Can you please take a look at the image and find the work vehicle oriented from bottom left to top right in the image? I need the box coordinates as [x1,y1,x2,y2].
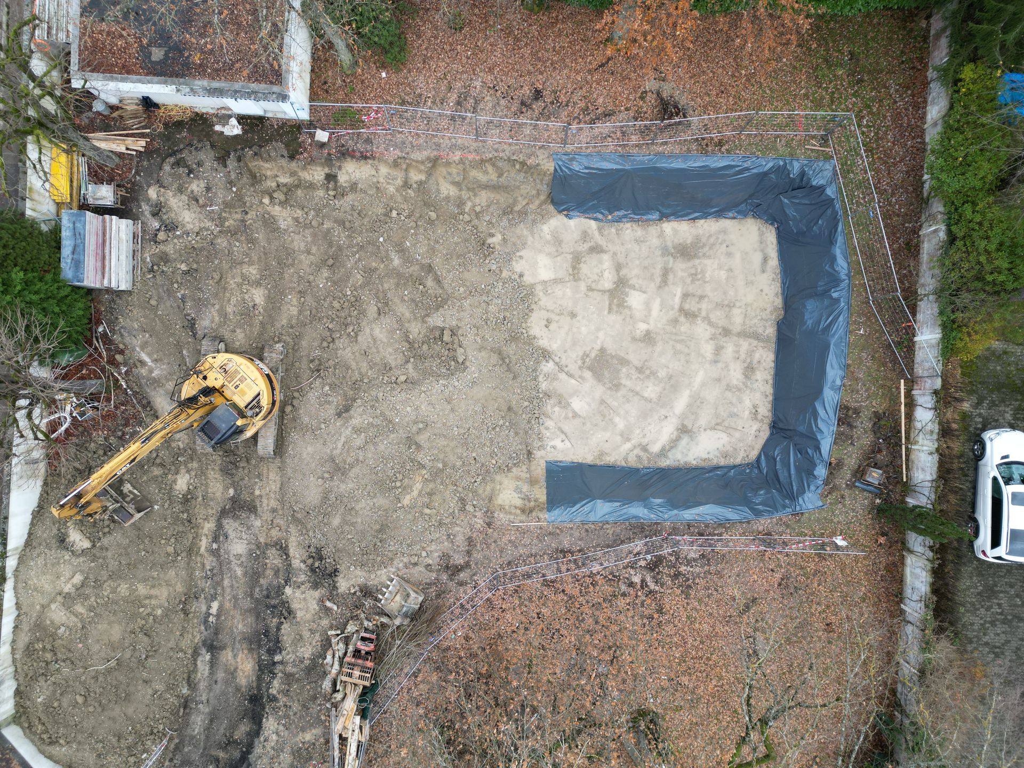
[55,339,288,527]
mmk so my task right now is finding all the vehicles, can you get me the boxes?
[55,339,288,527]
[973,429,1024,564]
